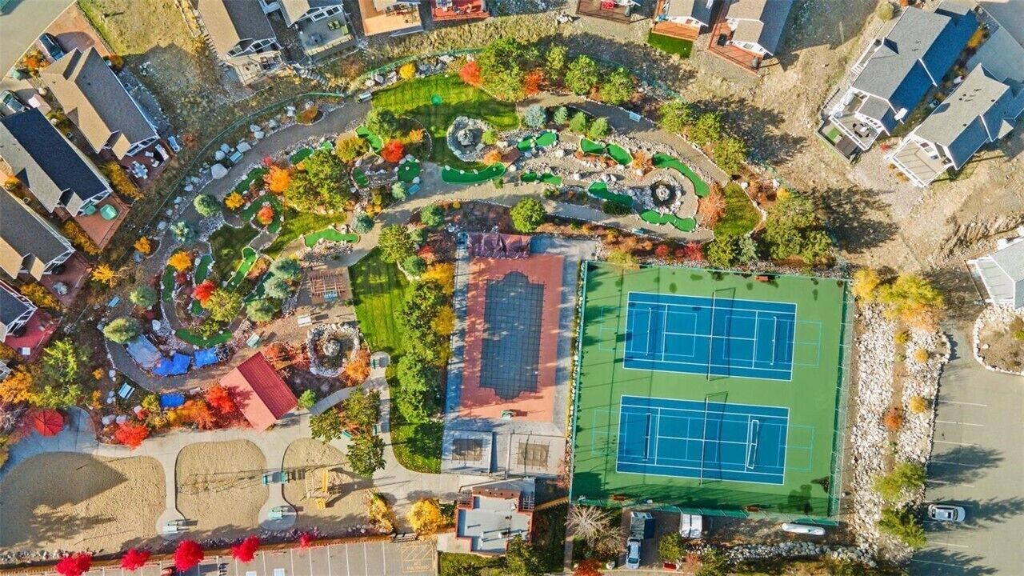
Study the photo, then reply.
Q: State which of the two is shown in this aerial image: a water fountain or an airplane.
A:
water fountain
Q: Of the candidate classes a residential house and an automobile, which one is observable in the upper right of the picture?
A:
residential house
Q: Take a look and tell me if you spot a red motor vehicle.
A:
No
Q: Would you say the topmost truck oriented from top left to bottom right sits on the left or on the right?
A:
left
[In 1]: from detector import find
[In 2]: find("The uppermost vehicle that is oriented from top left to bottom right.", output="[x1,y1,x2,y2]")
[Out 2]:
[32,27,66,64]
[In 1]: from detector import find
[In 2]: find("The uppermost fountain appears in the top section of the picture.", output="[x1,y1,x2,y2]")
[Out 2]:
[444,116,490,161]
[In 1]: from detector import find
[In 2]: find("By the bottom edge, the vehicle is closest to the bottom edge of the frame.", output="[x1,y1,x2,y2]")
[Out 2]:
[626,539,642,571]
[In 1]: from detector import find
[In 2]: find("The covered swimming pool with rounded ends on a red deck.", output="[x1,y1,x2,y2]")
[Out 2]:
[442,234,598,482]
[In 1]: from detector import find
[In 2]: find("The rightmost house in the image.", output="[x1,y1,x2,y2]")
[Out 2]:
[961,229,1024,307]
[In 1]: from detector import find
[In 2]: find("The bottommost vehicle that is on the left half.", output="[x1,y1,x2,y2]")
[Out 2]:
[0,84,27,113]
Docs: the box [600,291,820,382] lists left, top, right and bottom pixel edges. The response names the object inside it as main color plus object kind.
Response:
blue tennis court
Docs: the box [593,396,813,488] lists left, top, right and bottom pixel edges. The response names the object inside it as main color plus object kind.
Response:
blue tennis court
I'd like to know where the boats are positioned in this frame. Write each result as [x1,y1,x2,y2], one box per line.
[783,523,825,536]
